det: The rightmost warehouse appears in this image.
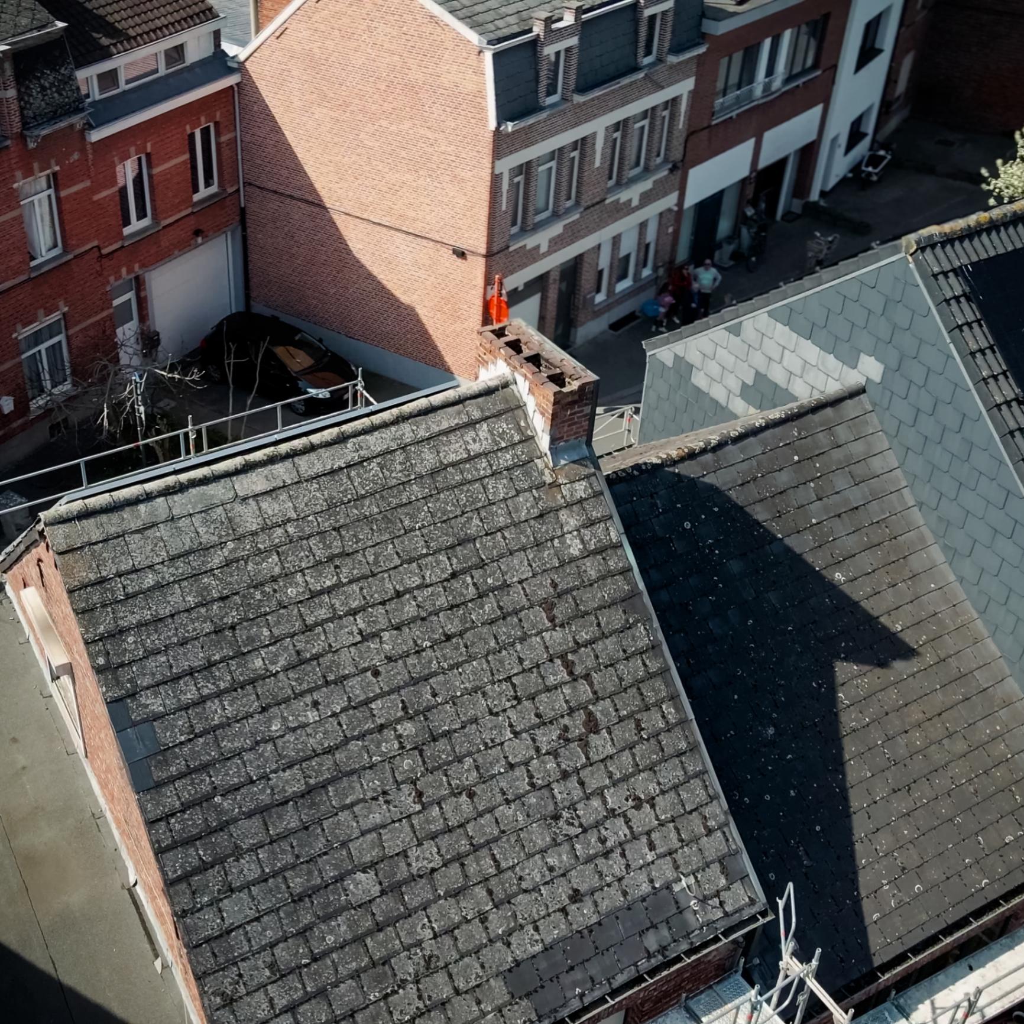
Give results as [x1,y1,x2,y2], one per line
[903,0,1024,139]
